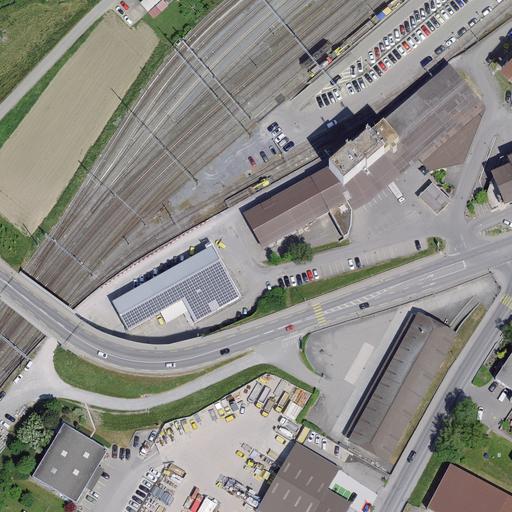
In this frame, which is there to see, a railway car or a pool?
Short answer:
railway car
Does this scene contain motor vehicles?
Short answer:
Yes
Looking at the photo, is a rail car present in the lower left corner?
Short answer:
No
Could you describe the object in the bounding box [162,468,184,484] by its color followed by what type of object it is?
white vehicle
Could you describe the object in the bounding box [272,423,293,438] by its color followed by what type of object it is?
white vehicle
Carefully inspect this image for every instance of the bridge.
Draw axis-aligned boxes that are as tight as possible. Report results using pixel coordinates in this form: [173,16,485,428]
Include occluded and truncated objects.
[0,258,86,350]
